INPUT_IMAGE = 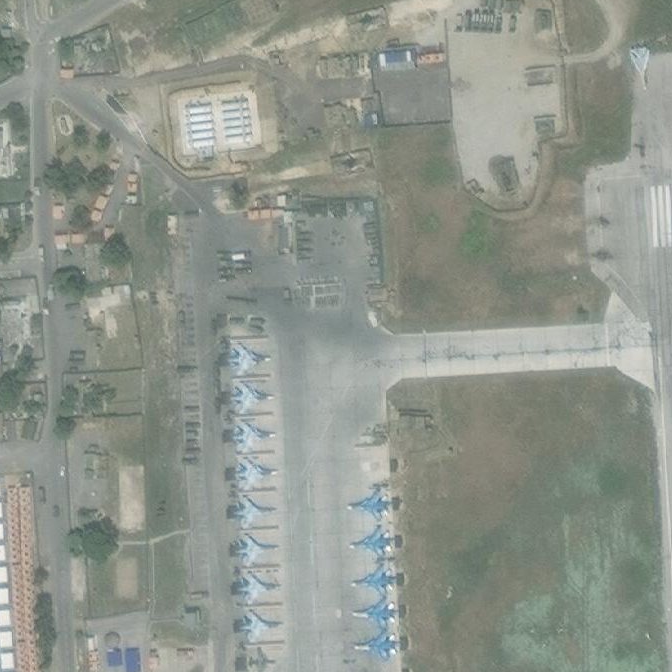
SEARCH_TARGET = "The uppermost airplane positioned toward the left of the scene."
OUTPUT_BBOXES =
[226,347,272,376]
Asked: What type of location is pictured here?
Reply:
airport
